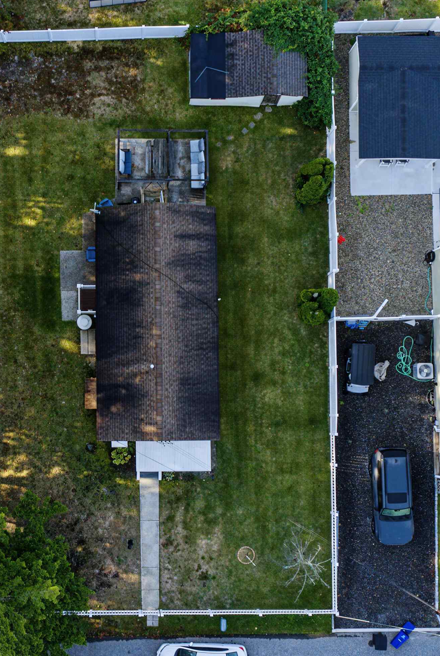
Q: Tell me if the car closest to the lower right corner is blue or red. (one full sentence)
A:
From above, the car closest to the lower right corner appears blue.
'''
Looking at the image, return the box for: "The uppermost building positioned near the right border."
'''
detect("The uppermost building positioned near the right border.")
[349,37,440,168]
